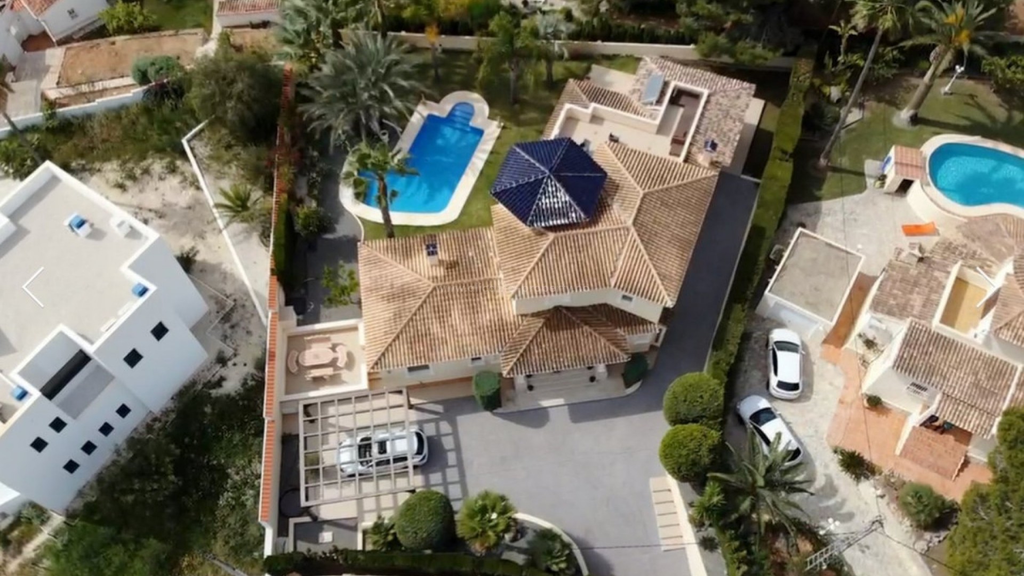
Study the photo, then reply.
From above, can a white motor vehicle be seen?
Yes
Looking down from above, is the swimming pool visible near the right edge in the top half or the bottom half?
top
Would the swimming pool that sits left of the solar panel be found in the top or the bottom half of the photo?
top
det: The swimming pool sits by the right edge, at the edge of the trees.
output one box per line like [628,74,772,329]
[908,134,1024,235]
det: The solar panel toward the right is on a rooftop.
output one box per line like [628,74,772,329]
[643,72,663,103]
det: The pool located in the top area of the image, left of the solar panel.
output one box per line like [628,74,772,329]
[339,90,504,226]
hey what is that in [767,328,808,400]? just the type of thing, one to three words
car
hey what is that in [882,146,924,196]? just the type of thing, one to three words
shed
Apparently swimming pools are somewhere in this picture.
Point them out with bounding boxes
[339,90,504,226]
[908,134,1024,235]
